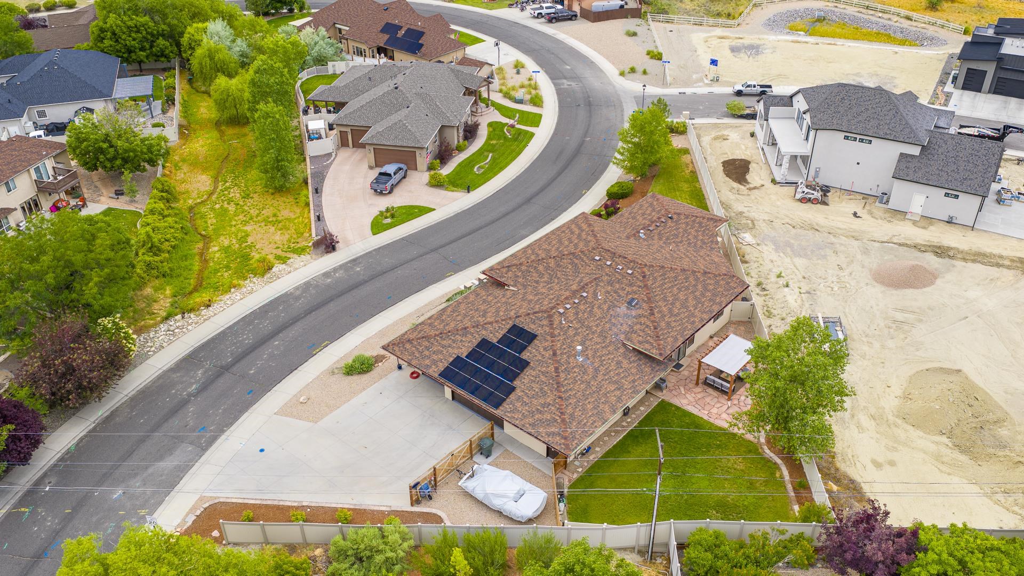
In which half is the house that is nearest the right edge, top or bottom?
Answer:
top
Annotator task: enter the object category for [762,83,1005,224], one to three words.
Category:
house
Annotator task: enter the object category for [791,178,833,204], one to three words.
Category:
work vehicle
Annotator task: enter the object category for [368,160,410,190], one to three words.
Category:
truck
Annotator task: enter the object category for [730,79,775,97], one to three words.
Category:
vehicle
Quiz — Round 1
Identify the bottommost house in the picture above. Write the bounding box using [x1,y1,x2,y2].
[382,194,754,461]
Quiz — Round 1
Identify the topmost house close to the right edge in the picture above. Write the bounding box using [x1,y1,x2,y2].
[955,3,1024,99]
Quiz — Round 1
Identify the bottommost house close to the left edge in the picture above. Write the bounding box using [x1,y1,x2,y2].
[0,138,90,230]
